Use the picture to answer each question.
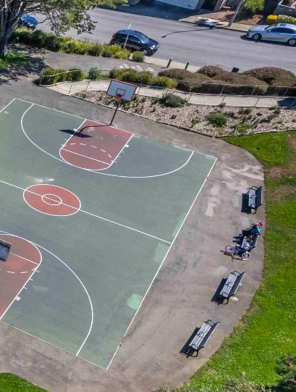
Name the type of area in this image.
sports ground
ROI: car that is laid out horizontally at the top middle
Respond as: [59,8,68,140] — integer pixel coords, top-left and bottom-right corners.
[108,22,161,52]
